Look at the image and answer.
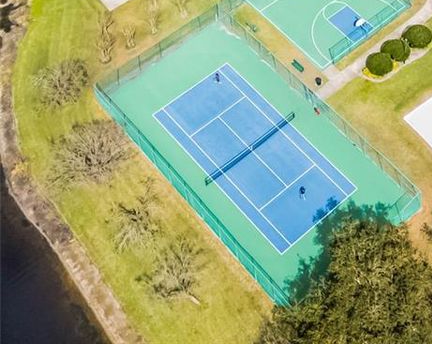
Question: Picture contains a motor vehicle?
No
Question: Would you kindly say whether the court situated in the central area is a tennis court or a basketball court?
tennis court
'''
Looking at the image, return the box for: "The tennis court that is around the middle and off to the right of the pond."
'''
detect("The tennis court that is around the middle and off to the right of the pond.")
[97,17,423,312]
